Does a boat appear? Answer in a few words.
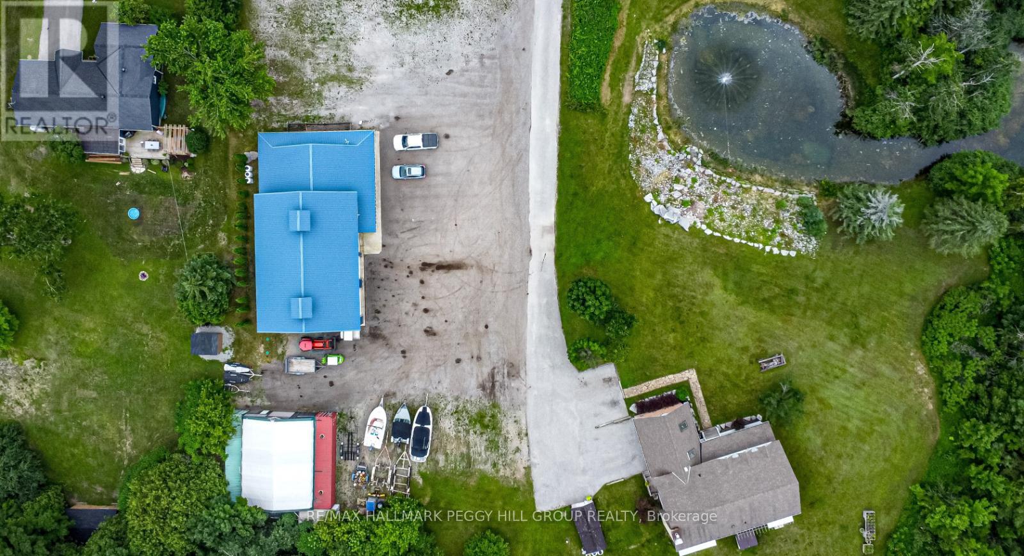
Yes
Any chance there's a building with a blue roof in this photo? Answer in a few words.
Yes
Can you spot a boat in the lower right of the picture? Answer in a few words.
No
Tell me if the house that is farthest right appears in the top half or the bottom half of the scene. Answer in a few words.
bottom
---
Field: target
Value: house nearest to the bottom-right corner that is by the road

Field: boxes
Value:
[633,400,802,556]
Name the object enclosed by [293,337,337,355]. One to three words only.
work vehicle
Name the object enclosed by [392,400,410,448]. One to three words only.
boat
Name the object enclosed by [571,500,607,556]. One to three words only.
shed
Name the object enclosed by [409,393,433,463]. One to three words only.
boat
